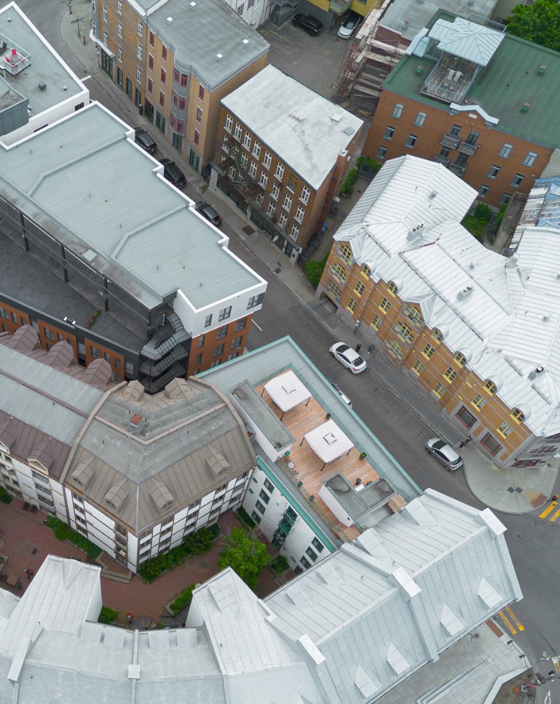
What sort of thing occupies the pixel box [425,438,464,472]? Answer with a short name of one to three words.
car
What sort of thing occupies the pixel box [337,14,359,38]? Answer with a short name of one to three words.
car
